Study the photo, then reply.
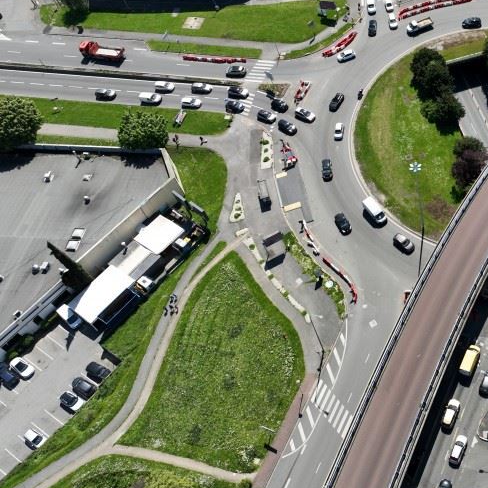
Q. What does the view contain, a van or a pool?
van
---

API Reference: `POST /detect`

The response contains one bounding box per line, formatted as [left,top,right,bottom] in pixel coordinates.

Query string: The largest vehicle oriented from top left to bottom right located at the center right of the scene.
[360,196,388,225]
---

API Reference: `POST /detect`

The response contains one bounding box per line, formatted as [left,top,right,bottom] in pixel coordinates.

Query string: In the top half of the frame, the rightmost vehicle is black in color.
[462,17,482,29]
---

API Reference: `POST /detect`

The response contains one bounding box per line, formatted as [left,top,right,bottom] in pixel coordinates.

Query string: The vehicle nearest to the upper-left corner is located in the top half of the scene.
[81,41,122,61]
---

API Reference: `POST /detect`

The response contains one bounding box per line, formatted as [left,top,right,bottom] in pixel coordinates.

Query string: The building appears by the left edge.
[0,152,186,363]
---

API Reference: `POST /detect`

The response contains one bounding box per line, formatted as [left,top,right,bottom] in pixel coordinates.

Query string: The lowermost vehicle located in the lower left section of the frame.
[20,425,51,452]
